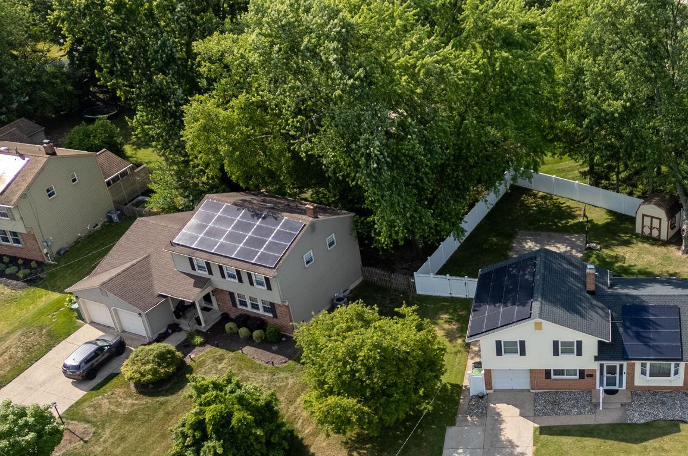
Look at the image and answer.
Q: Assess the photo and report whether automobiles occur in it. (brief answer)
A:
Yes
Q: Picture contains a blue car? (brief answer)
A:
No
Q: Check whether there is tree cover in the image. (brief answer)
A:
Yes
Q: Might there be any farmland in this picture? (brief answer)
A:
No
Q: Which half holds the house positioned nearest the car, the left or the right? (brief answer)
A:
left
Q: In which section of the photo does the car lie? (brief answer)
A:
bottom left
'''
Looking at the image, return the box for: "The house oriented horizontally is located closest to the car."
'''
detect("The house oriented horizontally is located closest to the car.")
[60,196,365,342]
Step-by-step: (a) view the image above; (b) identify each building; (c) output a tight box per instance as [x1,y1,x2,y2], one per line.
[60,196,365,342]
[463,248,688,404]
[633,190,683,239]
[0,137,151,260]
